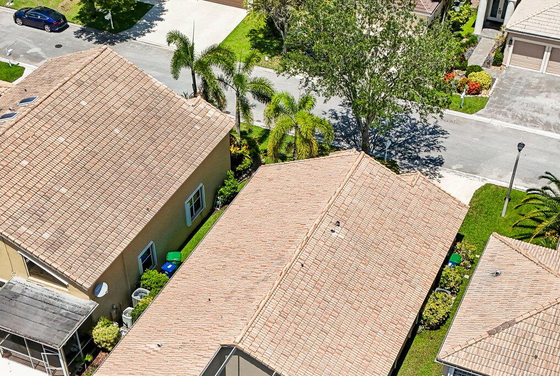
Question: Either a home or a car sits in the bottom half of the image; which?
home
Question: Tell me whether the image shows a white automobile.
No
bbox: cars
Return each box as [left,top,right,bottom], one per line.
[15,4,70,33]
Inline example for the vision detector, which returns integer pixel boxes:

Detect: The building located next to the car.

[0,32,243,321]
